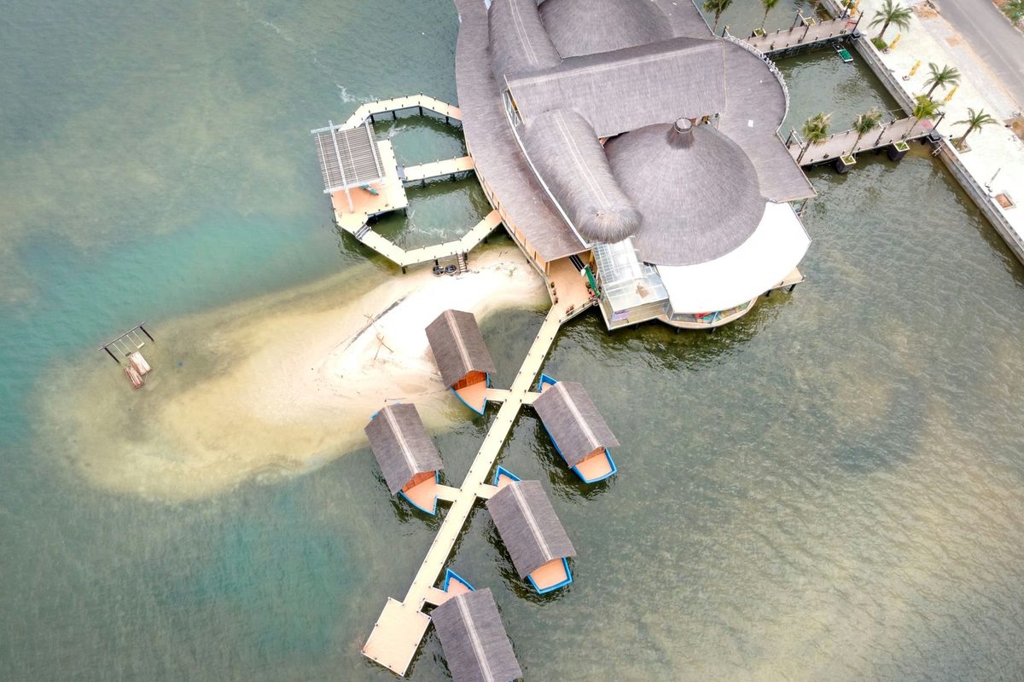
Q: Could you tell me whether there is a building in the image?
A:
Yes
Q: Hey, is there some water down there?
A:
Yes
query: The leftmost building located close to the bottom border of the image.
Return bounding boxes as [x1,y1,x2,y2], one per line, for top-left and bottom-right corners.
[431,567,523,682]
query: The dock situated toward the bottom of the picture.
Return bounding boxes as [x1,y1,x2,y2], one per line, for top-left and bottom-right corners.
[362,306,561,676]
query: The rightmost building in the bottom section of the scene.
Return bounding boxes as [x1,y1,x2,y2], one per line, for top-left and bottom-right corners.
[534,373,618,488]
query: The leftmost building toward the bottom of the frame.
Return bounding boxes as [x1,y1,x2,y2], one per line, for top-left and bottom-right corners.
[364,401,445,522]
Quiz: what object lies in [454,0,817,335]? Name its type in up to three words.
building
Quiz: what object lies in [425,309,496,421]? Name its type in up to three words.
building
